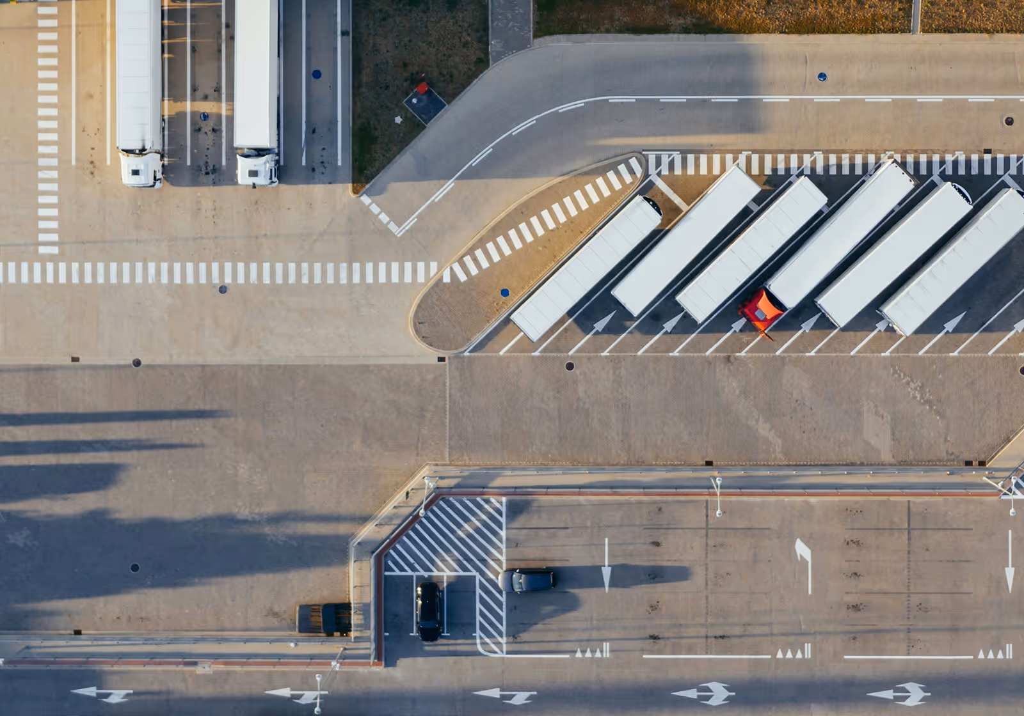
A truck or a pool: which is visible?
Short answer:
truck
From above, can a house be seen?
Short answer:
No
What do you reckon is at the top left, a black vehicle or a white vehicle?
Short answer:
white vehicle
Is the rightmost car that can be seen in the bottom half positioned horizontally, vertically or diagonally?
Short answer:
horizontally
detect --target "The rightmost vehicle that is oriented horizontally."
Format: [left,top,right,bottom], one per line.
[500,568,556,596]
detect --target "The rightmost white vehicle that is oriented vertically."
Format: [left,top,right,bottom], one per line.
[234,0,279,188]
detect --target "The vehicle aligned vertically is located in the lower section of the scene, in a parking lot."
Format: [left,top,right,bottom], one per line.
[415,580,444,641]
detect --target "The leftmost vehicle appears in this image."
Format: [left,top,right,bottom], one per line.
[117,0,166,189]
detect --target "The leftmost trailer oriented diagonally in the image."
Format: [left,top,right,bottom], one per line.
[510,194,663,342]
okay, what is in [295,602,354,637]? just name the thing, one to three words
truck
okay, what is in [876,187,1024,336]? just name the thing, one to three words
trailer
